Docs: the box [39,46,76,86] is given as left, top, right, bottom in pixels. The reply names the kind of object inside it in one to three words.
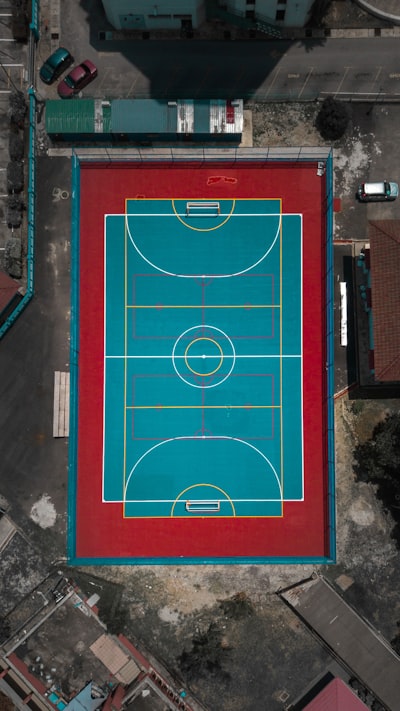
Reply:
car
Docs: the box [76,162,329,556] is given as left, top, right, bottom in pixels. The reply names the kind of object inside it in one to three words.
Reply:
sports court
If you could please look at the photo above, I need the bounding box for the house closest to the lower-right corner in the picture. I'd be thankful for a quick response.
[270,647,374,711]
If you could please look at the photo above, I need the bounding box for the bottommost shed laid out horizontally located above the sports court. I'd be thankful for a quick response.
[44,98,242,144]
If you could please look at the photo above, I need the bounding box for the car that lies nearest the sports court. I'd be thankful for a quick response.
[358,181,399,201]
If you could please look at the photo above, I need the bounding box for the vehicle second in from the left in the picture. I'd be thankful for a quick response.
[58,59,99,99]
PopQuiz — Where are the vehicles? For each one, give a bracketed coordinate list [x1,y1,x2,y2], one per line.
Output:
[358,181,399,201]
[39,46,76,86]
[58,59,99,99]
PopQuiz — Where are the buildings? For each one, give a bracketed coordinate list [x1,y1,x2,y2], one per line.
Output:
[44,98,242,144]
[356,218,400,392]
[0,499,22,555]
[270,647,374,711]
[0,269,22,315]
[103,0,204,28]
[211,0,307,28]
[0,588,209,711]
